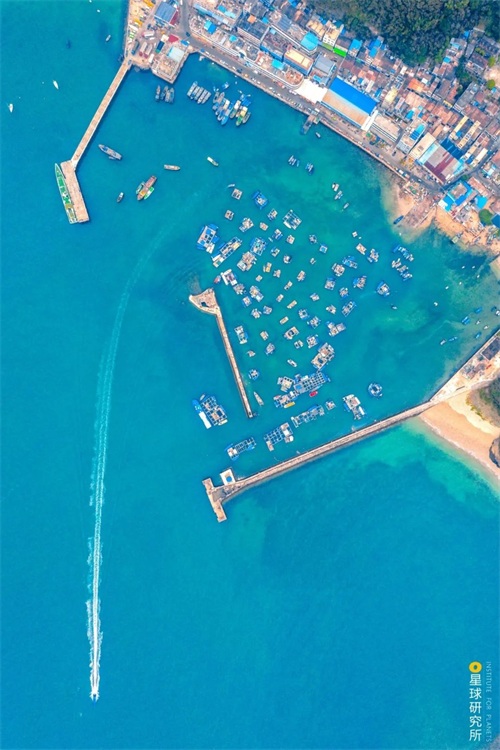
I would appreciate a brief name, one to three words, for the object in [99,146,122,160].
boat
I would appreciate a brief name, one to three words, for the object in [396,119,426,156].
house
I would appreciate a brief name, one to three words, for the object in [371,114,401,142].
house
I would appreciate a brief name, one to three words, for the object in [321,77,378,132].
building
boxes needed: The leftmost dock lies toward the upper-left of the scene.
[61,61,133,223]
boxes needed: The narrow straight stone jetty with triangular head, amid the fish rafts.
[190,289,255,417]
